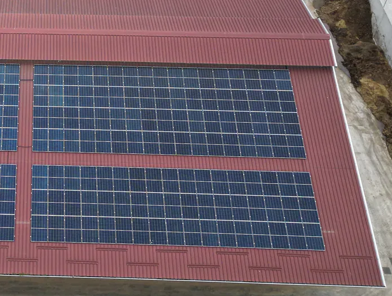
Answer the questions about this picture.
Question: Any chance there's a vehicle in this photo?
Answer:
No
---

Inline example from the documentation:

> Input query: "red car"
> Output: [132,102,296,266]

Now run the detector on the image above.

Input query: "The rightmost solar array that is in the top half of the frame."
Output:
[32,65,305,157]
